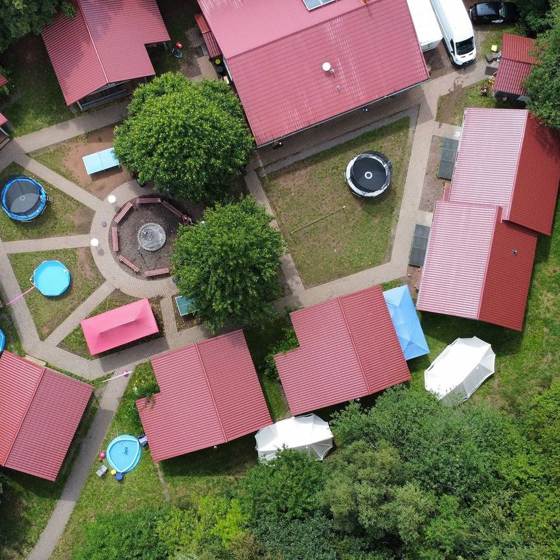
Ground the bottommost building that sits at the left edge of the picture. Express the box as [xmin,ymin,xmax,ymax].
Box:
[0,347,95,480]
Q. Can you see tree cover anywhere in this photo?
Yes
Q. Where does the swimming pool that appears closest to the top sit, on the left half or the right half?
left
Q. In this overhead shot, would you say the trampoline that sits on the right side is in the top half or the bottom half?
top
